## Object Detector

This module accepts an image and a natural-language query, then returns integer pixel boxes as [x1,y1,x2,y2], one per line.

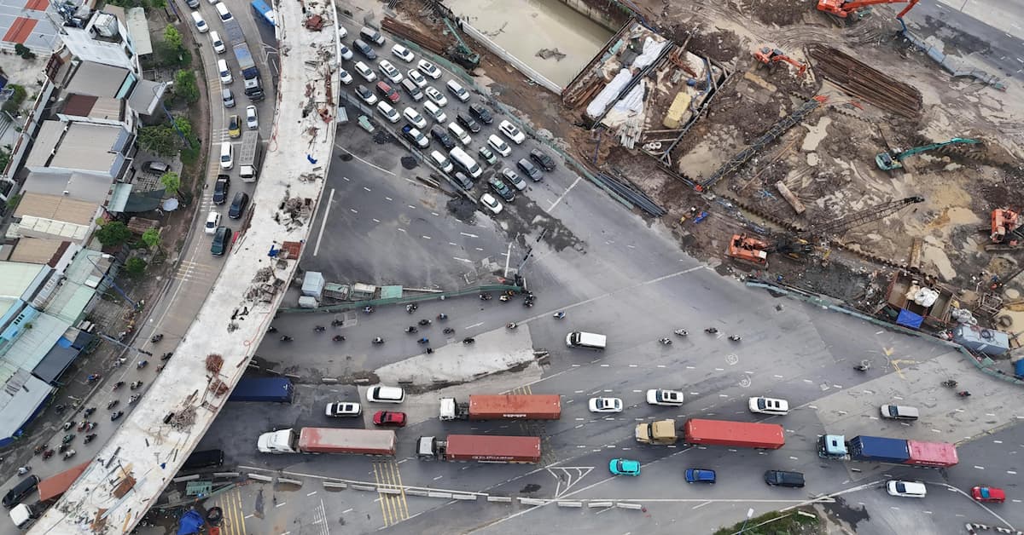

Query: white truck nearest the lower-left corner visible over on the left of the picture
[3,503,46,532]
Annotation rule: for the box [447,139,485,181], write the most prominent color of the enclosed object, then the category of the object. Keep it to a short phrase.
white vehicle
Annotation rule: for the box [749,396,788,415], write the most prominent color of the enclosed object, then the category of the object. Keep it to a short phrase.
white car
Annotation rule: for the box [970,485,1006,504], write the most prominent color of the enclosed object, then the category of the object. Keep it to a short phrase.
red car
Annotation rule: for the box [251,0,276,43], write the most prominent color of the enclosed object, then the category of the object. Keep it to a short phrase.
blue bus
